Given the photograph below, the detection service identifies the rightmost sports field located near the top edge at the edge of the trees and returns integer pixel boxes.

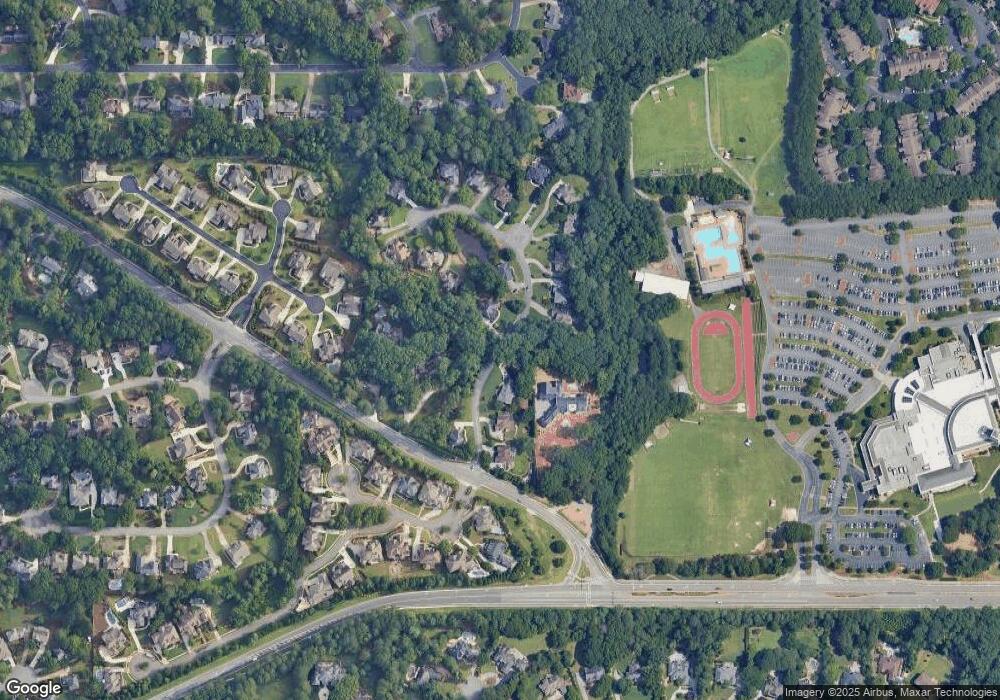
[709,26,790,213]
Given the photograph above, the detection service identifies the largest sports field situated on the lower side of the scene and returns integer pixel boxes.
[619,419,803,555]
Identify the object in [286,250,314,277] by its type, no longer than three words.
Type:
house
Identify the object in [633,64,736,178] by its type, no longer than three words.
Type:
sports field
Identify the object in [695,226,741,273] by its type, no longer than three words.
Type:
swimming pool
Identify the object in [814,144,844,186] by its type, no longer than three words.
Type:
building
